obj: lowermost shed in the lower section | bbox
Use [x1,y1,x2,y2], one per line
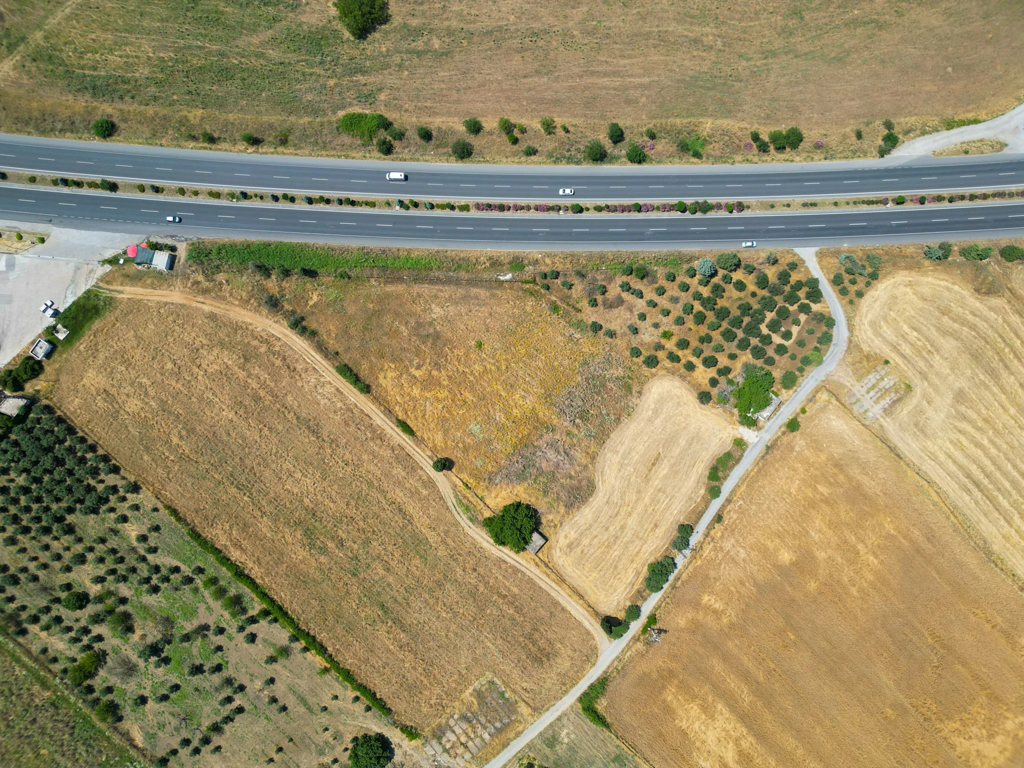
[524,529,548,554]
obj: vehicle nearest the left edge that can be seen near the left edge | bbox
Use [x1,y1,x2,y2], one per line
[37,300,55,313]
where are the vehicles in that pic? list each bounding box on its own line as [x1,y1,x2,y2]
[166,216,182,223]
[387,173,406,181]
[37,300,55,313]
[742,241,756,248]
[559,189,574,195]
